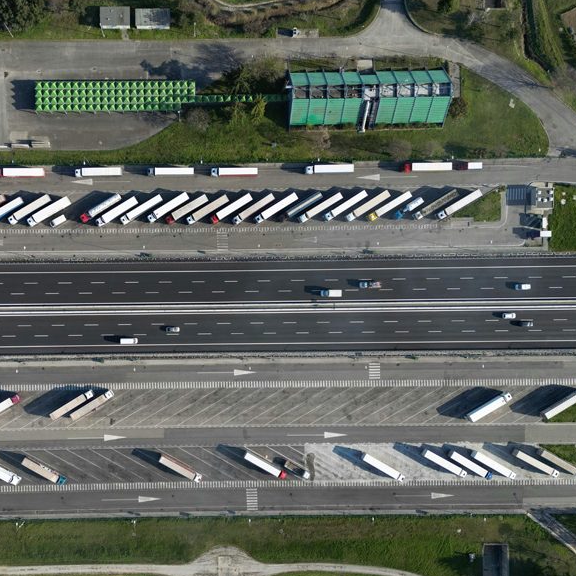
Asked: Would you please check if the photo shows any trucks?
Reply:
Yes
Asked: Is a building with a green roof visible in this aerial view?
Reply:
Yes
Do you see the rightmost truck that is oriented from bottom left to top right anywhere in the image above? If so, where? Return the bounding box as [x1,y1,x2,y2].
[540,390,576,420]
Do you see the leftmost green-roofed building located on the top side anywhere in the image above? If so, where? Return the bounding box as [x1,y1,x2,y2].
[285,69,447,131]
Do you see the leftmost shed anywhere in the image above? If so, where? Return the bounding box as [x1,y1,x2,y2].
[100,7,130,33]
